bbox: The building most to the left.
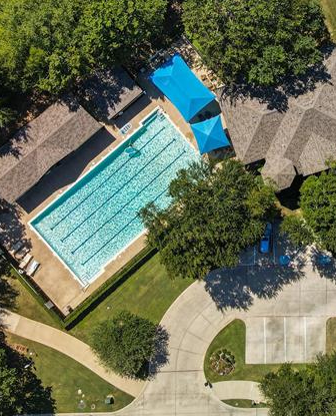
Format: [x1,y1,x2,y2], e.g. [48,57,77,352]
[0,103,104,203]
